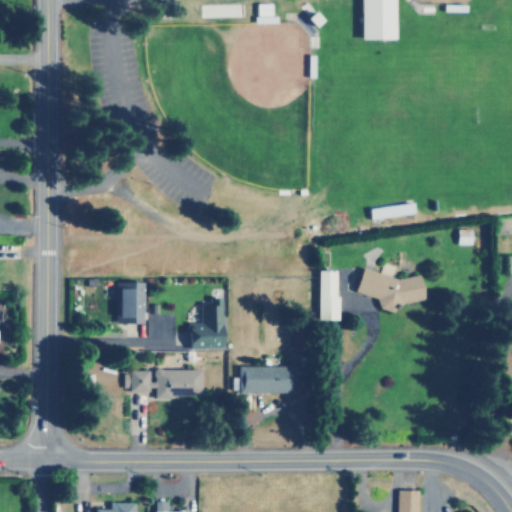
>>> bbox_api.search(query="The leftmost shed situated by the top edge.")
[201,4,246,19]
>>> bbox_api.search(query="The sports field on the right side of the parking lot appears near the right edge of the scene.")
[310,0,512,228]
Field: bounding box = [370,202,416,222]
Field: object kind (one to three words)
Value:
shed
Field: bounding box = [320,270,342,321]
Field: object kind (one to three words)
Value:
building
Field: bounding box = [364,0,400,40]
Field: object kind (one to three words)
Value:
barn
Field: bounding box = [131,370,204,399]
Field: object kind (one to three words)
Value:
house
